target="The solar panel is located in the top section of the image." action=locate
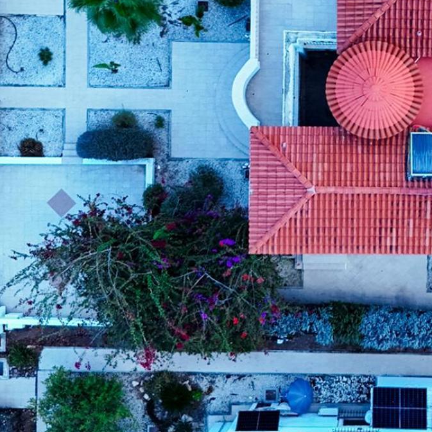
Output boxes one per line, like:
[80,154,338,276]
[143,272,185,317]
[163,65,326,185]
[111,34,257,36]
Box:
[411,134,432,178]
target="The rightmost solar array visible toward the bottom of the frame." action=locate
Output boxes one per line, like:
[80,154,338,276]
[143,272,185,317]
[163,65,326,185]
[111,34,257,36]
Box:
[373,386,426,428]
